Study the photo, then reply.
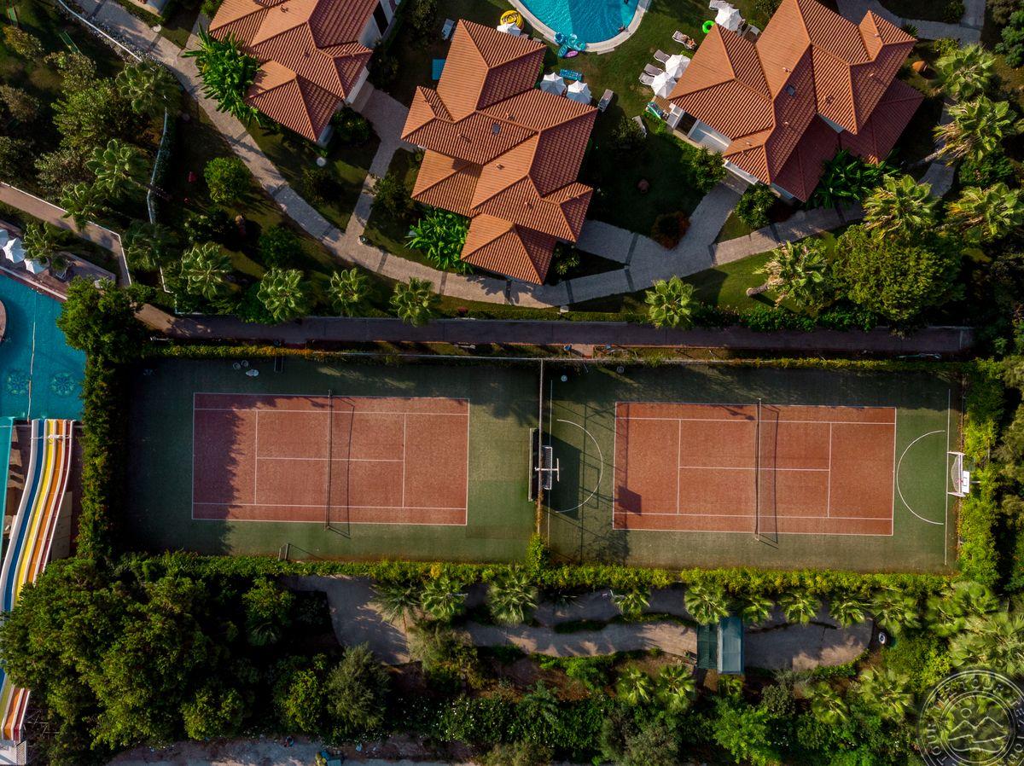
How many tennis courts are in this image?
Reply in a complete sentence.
In total, 2 tennis courts can be seen.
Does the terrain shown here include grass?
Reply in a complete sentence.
Yes, grass shows up in the scene.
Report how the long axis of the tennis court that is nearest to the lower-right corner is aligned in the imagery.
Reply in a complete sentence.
The tennis court that is nearest to the lower-right corner is oriented from left to right.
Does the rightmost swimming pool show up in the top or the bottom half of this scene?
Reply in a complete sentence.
Seen from above, the rightmost swimming pool lies in the top half of the view.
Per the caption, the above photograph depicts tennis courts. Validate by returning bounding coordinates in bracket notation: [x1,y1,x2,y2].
[548,380,950,566]
[192,392,469,526]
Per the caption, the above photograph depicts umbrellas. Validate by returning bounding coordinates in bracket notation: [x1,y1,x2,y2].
[563,78,593,105]
[540,70,568,97]
[712,5,742,32]
[647,71,677,102]
[5,237,28,265]
[0,224,16,251]
[661,53,689,83]
[25,256,56,277]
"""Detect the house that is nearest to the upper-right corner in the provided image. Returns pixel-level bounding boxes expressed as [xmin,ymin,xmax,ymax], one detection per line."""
[668,0,926,219]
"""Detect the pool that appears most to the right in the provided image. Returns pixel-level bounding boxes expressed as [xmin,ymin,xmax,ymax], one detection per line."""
[512,0,650,55]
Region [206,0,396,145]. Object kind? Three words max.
house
